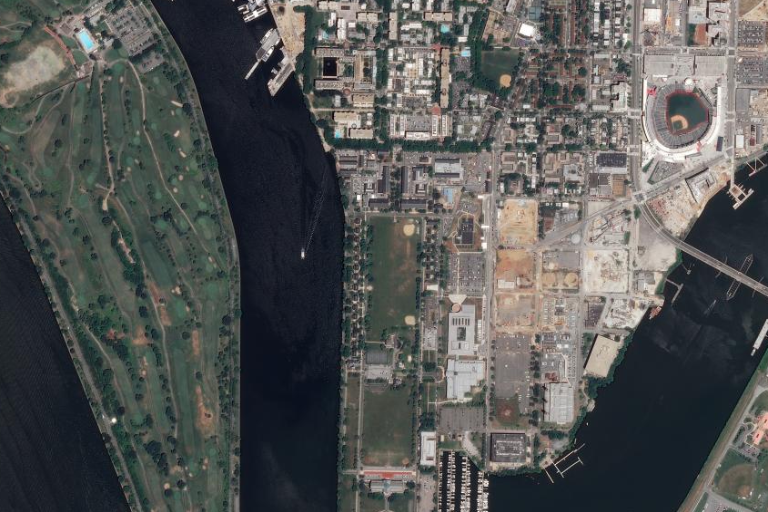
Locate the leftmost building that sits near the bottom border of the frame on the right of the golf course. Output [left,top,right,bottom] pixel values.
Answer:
[371,479,406,495]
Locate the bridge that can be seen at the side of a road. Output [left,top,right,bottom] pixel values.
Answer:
[642,202,768,295]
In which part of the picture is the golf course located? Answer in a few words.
left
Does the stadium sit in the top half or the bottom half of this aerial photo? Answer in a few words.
top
